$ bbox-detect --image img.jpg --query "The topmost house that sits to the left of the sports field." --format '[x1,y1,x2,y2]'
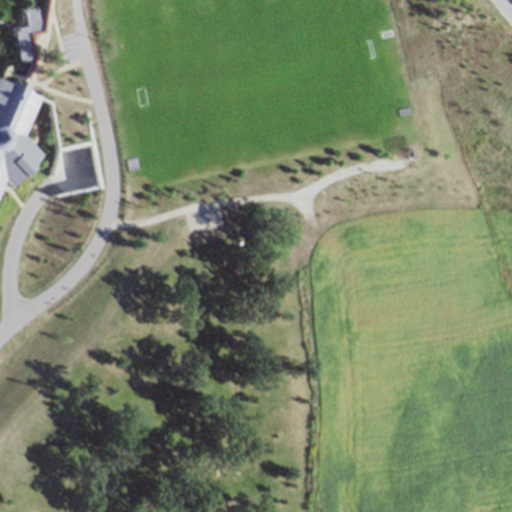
[16,8,42,62]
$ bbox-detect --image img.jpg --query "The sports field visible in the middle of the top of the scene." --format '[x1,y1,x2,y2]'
[94,0,410,186]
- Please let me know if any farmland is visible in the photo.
Yes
